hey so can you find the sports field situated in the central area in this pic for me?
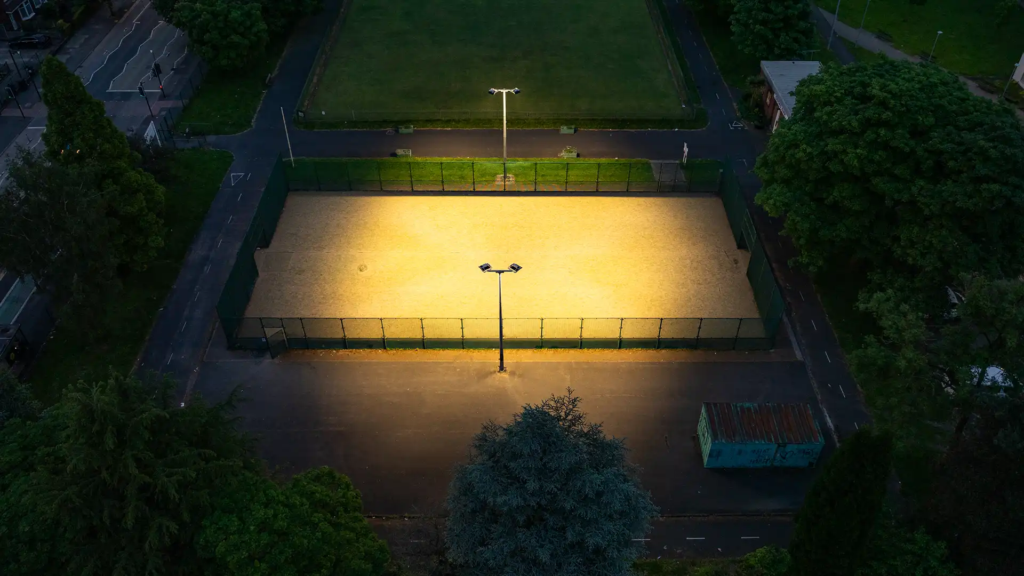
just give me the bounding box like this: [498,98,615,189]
[235,194,768,349]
